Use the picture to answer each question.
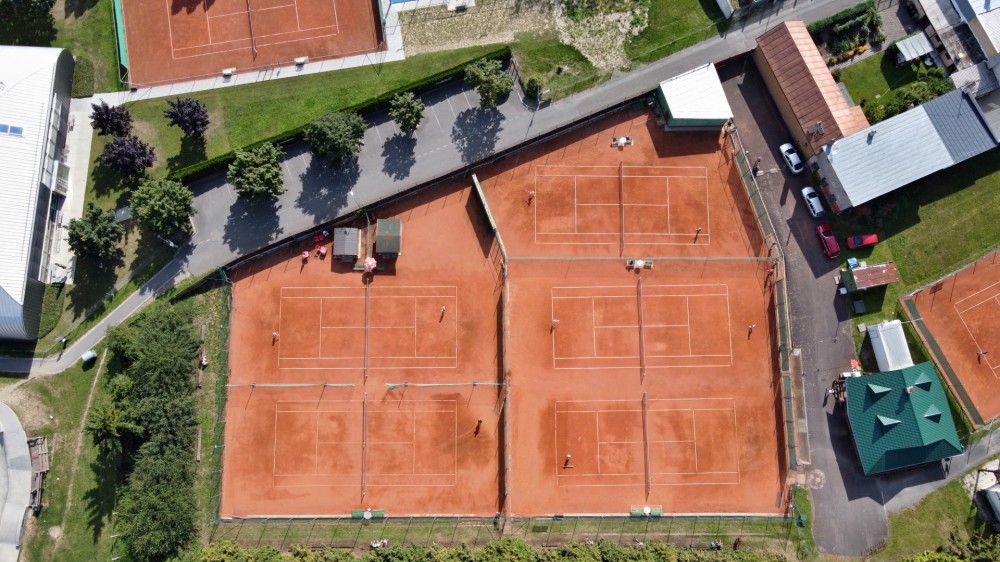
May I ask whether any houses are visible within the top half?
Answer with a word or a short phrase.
Yes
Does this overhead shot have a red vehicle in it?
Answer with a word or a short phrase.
Yes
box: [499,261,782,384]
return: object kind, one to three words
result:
tennis court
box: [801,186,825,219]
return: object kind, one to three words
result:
car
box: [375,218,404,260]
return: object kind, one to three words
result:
shed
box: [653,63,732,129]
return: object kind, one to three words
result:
building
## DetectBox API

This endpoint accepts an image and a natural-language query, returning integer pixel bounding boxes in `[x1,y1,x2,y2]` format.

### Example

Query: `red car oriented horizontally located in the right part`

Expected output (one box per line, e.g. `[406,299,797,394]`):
[846,233,878,249]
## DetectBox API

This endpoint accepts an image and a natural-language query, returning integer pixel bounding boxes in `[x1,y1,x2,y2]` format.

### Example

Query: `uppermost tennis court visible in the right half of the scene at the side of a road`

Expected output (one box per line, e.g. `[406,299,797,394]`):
[496,105,773,261]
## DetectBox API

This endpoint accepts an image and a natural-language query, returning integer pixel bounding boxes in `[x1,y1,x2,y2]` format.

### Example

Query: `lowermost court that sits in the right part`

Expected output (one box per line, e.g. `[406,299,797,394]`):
[502,384,792,518]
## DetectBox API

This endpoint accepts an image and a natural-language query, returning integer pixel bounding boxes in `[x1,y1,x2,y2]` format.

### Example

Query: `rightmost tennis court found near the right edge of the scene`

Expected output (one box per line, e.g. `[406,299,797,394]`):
[908,248,1000,422]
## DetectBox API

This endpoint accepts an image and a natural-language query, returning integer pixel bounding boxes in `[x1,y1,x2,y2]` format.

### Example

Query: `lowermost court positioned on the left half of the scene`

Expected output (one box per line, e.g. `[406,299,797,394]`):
[220,385,505,518]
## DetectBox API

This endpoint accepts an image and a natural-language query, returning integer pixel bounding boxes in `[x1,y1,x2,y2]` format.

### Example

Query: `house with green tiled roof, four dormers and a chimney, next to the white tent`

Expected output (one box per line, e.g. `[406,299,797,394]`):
[838,361,963,476]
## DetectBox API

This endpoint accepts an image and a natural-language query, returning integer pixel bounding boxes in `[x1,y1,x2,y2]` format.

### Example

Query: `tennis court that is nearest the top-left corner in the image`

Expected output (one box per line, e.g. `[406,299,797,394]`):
[121,0,385,88]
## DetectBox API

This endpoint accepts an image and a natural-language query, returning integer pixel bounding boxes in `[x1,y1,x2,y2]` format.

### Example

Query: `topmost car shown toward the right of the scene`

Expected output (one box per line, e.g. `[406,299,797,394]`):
[778,143,804,176]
